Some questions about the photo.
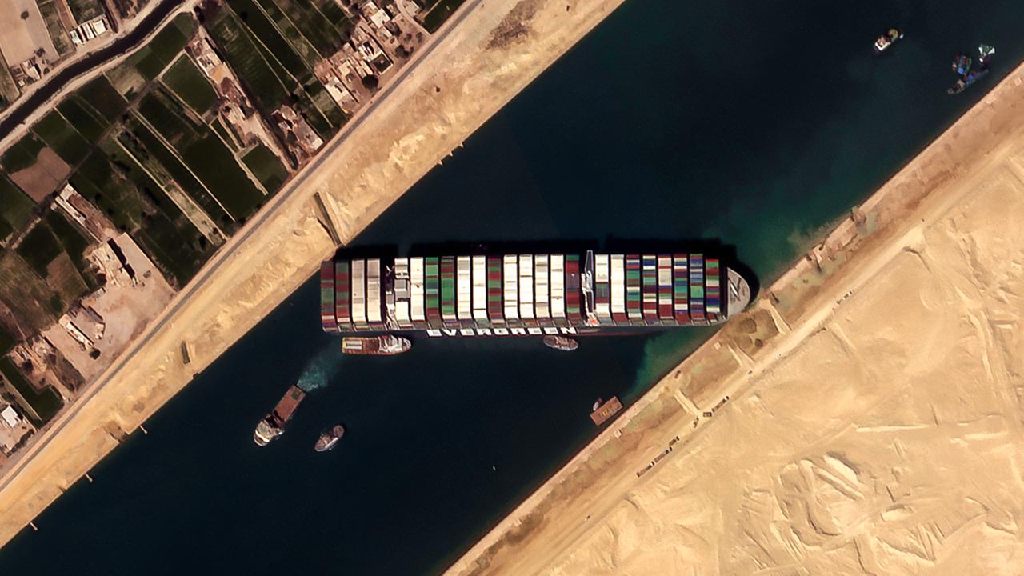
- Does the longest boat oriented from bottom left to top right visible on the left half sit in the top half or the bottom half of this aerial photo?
bottom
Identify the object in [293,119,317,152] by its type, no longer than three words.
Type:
house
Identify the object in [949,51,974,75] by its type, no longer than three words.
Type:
ship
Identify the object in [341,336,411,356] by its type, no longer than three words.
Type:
boat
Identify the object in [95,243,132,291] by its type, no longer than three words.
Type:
barn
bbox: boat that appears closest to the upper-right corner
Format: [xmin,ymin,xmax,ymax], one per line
[978,44,995,63]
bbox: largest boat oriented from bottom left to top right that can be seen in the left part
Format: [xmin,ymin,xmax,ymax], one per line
[256,384,306,445]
